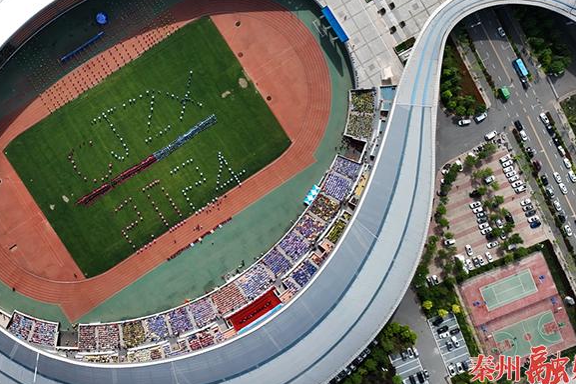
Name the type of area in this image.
sports ground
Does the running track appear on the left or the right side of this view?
left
